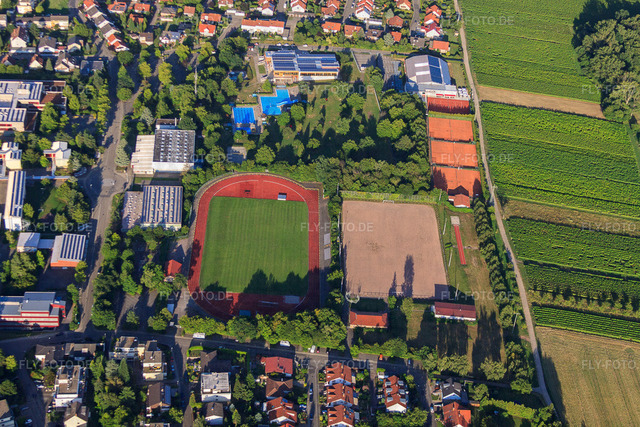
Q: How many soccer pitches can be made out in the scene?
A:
2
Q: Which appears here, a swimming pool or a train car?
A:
swimming pool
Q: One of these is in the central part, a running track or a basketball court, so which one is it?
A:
running track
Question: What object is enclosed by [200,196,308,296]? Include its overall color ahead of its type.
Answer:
green soccer field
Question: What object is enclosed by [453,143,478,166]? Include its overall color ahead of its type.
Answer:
orange tennis court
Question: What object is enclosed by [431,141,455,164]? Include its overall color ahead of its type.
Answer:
orange tennis court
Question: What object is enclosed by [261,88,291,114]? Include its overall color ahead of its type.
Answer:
blue swimming pool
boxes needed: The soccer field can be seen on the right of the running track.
[342,201,448,297]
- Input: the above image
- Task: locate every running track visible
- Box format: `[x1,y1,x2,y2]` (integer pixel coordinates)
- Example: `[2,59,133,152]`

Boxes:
[181,171,328,325]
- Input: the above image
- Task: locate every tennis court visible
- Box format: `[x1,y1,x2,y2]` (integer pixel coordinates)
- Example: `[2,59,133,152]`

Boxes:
[431,141,455,164]
[456,169,482,196]
[433,167,458,193]
[429,118,452,139]
[450,119,474,141]
[449,99,469,114]
[453,143,478,166]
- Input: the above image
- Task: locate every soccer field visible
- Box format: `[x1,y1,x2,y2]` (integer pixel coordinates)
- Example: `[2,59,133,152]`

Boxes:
[342,201,448,297]
[200,196,308,296]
